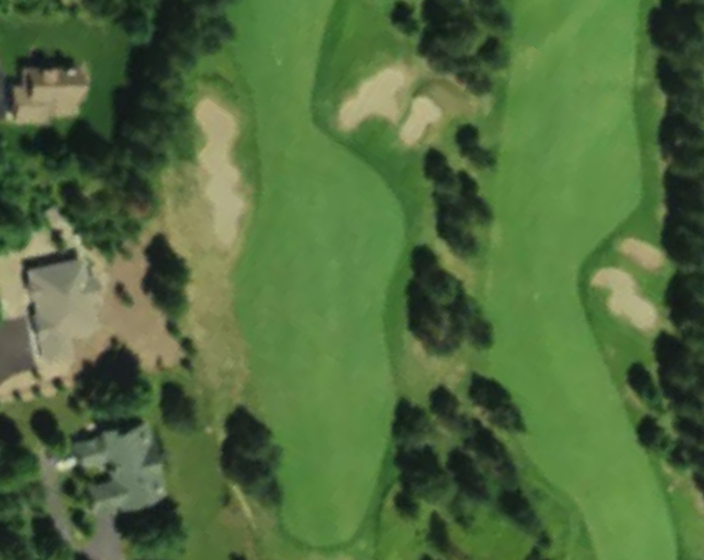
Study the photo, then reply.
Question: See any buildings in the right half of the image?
No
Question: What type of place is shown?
golf course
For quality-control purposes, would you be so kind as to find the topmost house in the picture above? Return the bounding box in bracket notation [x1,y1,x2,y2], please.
[13,68,88,123]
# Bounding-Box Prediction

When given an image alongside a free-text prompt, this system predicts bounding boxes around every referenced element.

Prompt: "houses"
[25,262,105,364]
[13,68,88,123]
[71,421,168,516]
